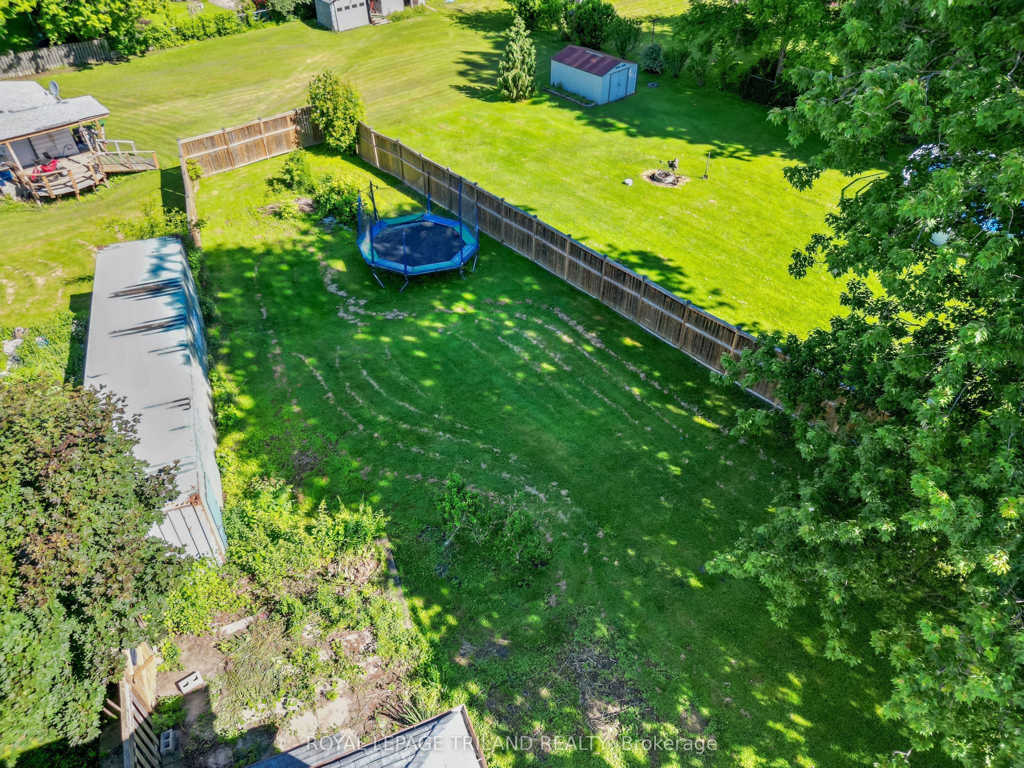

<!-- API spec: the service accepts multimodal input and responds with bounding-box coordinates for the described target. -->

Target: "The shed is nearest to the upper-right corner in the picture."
[545,42,643,105]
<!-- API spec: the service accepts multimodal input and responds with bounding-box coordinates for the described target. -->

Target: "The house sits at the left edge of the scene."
[0,78,162,208]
